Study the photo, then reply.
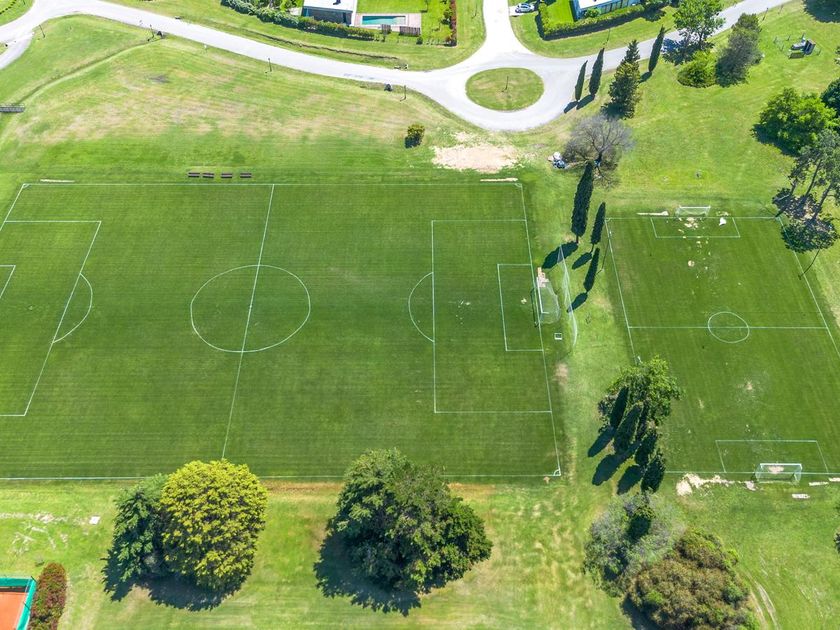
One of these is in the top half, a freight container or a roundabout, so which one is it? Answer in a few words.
roundabout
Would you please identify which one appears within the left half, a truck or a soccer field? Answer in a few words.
soccer field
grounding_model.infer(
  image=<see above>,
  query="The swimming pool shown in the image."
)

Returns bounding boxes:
[355,13,421,32]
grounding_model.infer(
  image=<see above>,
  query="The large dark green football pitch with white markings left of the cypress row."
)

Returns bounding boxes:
[0,182,571,483]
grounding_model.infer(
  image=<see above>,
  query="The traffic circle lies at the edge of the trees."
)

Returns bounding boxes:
[441,55,568,126]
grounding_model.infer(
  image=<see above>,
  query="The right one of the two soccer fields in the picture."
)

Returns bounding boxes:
[602,214,840,491]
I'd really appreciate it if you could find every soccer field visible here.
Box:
[602,214,840,491]
[0,182,571,483]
